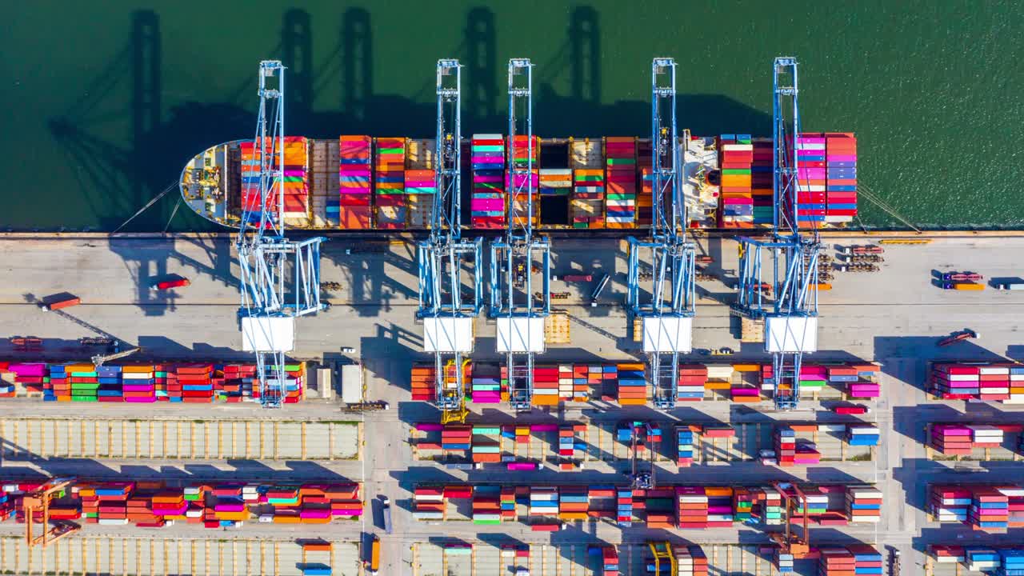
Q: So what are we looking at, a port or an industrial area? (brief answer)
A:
port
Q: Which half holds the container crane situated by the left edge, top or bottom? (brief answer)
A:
bottom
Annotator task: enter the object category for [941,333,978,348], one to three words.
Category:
vehicle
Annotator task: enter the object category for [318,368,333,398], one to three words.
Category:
shed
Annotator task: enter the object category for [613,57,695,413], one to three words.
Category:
container crane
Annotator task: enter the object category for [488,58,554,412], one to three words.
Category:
container crane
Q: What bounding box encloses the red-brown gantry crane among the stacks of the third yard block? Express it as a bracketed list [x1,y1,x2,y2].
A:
[767,483,809,561]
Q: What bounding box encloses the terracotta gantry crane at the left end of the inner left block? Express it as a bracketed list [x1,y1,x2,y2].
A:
[24,476,79,547]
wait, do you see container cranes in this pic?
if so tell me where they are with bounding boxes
[24,476,79,547]
[443,354,472,424]
[233,60,338,411]
[718,57,831,413]
[613,57,695,413]
[488,58,554,412]
[623,421,656,495]
[419,59,492,412]
[767,483,809,561]
[644,541,676,576]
